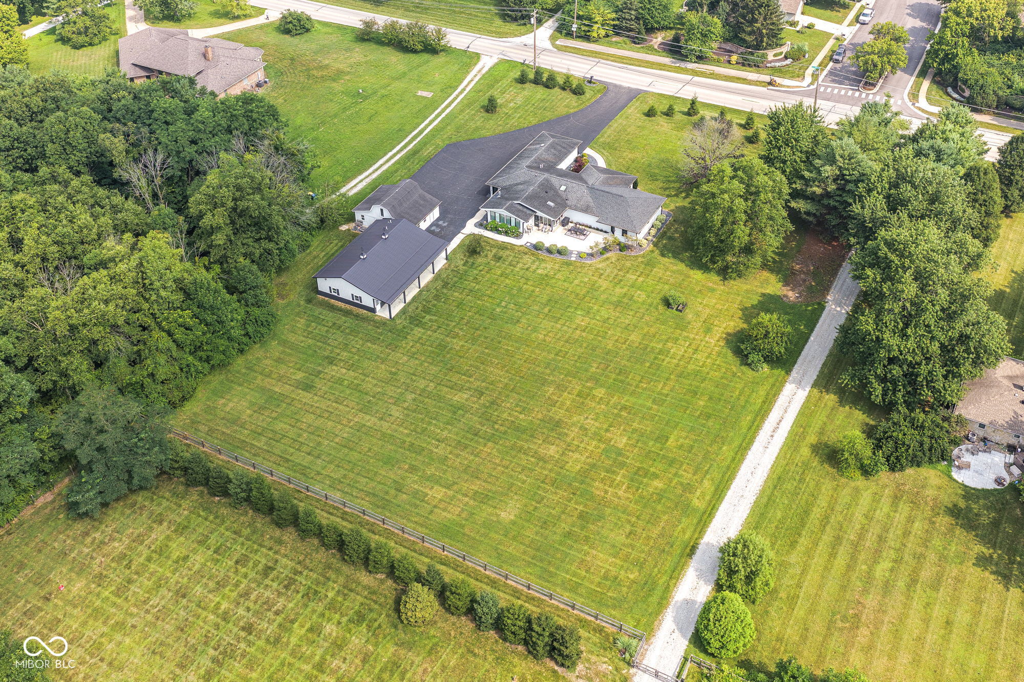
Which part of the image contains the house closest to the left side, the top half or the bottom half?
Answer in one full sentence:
The house closest to the left side sits in the top half of the picture.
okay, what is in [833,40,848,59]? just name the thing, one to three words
car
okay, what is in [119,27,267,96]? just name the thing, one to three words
house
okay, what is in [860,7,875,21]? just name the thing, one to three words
vehicle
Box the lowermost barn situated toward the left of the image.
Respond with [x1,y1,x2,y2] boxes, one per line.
[311,217,453,318]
